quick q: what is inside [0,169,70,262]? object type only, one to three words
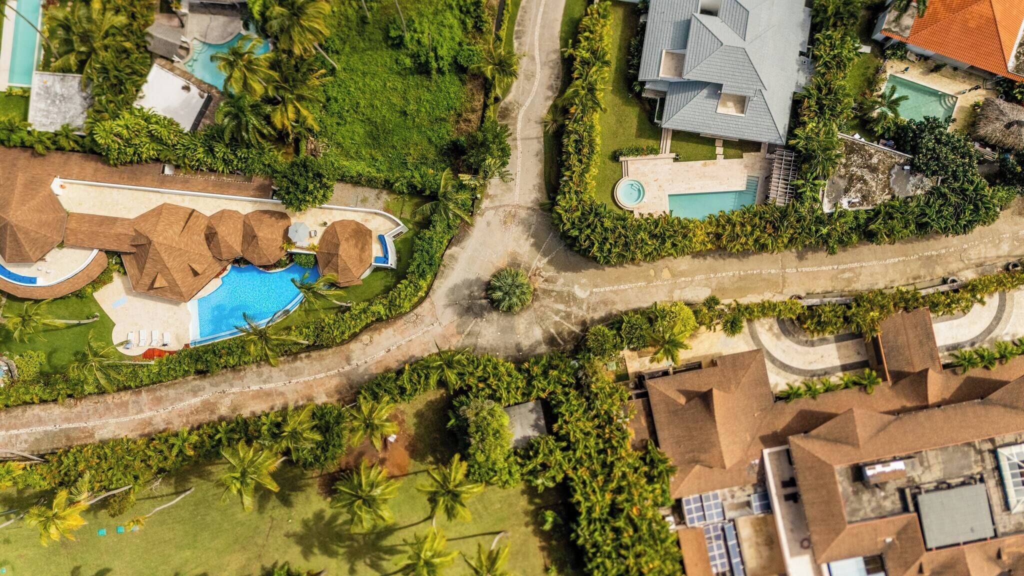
building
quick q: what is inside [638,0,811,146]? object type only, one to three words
house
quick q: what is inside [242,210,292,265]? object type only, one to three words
building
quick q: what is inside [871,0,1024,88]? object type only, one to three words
house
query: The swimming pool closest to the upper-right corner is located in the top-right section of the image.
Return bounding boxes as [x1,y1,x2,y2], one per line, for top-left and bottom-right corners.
[885,71,962,140]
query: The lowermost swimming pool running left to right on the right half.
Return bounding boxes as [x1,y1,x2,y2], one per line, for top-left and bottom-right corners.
[669,176,759,225]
